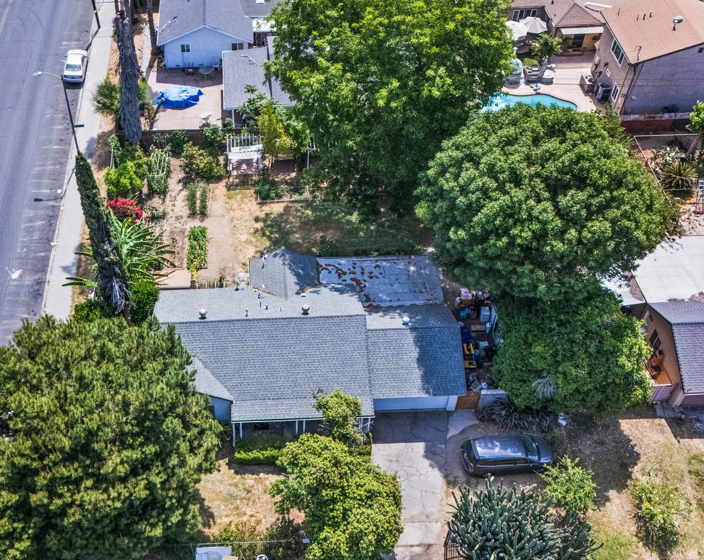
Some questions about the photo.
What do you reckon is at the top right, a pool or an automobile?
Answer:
pool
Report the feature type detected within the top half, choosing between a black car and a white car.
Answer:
white car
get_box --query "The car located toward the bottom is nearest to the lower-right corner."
[462,437,556,481]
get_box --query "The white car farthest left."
[61,53,88,89]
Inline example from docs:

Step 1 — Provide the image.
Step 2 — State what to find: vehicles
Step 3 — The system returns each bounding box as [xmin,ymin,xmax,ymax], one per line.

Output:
[61,53,88,89]
[462,437,556,481]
